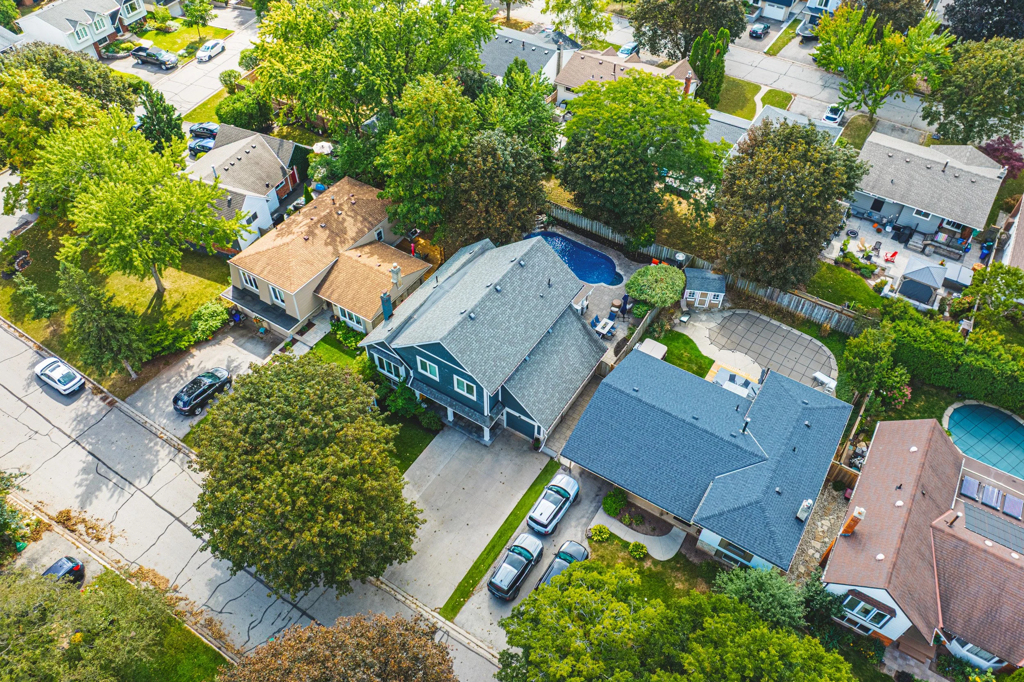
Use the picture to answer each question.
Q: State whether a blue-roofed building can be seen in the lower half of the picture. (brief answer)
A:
Yes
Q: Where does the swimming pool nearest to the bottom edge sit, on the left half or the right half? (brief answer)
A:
right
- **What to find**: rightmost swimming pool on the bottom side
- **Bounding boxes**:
[942,399,1024,482]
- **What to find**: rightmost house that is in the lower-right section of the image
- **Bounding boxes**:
[806,417,1024,682]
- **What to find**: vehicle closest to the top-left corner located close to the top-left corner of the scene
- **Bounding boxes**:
[129,45,179,69]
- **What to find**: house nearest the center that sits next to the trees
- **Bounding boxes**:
[358,238,613,462]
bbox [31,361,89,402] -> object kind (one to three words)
car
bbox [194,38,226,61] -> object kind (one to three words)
car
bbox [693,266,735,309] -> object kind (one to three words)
shed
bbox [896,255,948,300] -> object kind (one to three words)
gazebo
